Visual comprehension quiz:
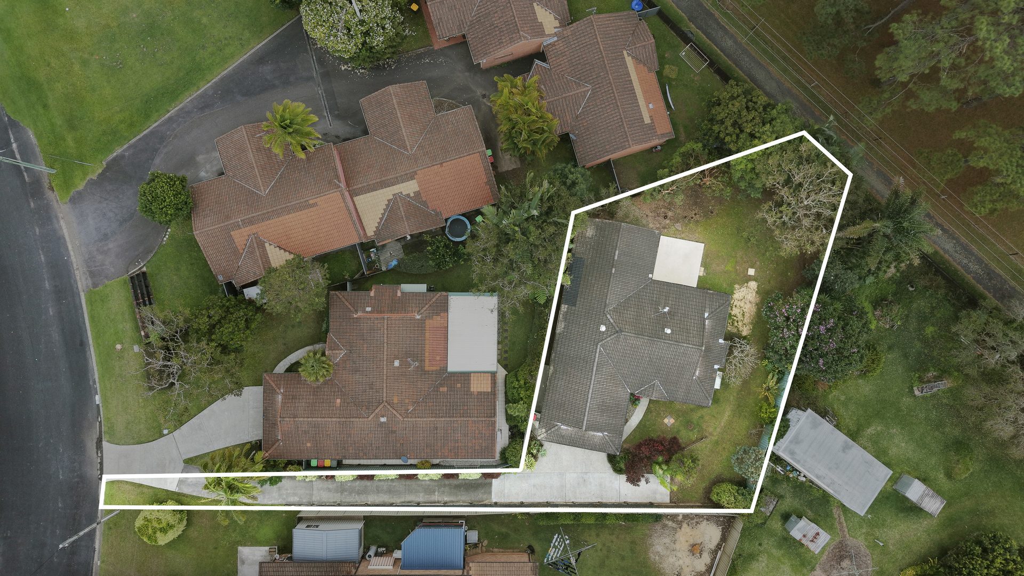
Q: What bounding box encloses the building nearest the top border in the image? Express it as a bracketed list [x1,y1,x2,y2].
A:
[427,0,571,73]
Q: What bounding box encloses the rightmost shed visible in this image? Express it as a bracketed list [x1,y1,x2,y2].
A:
[895,474,946,517]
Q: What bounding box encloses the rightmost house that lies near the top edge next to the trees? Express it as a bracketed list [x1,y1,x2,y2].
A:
[525,10,675,170]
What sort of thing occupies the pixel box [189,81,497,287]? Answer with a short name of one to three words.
house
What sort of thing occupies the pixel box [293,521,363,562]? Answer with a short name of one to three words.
shed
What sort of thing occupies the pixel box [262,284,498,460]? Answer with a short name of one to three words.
house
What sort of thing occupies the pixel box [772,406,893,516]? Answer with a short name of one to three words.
shed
